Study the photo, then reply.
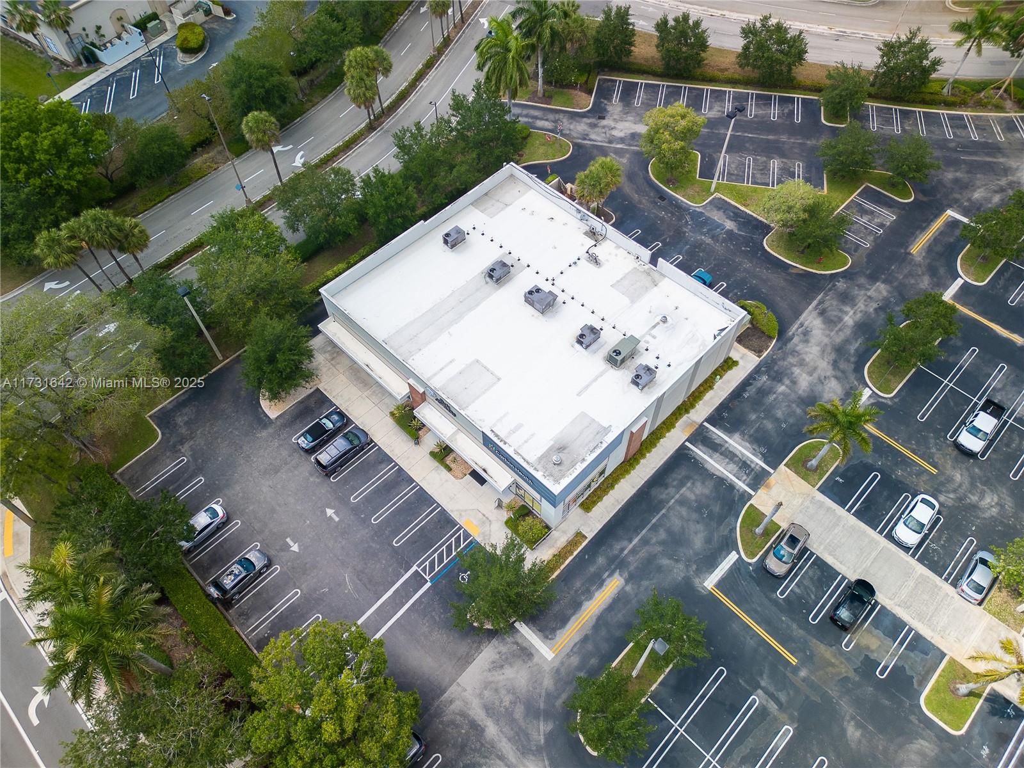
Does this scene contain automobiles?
Yes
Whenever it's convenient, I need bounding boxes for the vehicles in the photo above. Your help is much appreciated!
[760,525,812,580]
[294,411,344,452]
[828,579,878,634]
[952,398,1009,458]
[693,269,720,290]
[174,505,232,555]
[892,494,941,547]
[953,547,999,601]
[314,431,371,478]
[208,548,271,603]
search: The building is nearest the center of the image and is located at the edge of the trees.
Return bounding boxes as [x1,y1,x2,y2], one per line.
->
[315,165,745,526]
